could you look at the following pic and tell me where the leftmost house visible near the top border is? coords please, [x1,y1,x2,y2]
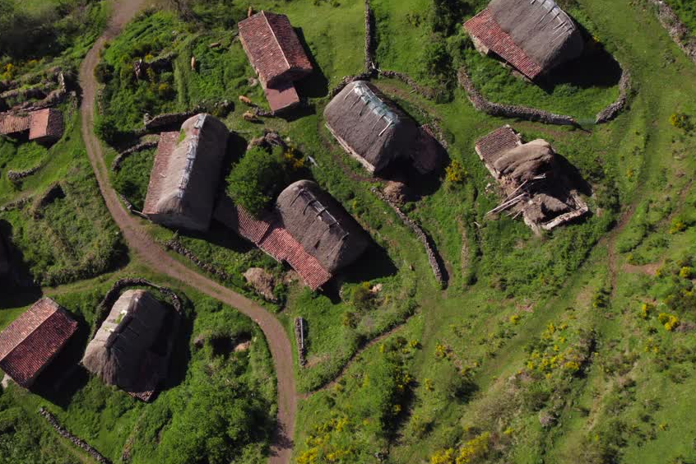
[237,8,314,118]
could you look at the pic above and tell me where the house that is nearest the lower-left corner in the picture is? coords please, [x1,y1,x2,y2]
[0,296,79,389]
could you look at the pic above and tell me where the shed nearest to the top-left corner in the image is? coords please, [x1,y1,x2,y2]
[0,107,66,147]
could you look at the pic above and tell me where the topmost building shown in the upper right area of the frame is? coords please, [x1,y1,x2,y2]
[464,0,593,85]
